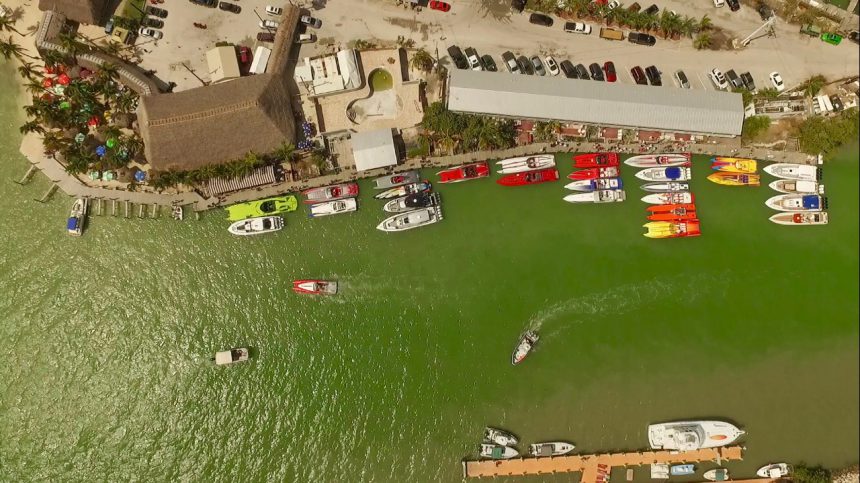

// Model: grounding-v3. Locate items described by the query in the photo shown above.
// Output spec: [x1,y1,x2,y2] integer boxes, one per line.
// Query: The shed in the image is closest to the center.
[352,129,397,173]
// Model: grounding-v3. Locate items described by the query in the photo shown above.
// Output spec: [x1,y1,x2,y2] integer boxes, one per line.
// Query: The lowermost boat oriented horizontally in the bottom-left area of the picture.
[208,349,249,365]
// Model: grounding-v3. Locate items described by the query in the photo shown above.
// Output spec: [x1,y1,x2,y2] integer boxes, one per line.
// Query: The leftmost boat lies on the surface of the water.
[64,199,86,234]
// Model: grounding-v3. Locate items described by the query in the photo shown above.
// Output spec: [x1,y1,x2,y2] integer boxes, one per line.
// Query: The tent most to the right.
[338,48,363,92]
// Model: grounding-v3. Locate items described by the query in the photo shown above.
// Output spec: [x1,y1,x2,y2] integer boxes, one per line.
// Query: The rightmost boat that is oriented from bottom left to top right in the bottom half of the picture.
[512,332,538,365]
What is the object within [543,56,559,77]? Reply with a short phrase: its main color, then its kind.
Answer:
white car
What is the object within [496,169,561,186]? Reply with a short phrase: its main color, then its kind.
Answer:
red boat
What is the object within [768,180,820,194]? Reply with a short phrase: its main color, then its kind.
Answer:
white boat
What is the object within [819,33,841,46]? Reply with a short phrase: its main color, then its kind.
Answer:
green vehicle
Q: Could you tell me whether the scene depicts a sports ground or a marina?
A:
marina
